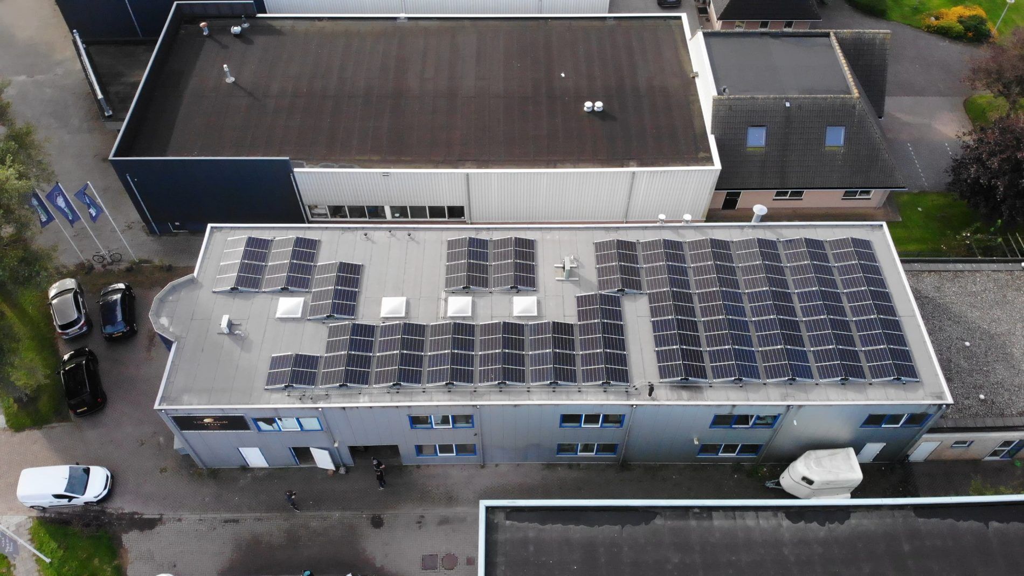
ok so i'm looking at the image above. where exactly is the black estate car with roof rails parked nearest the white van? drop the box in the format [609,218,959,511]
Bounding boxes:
[59,342,111,418]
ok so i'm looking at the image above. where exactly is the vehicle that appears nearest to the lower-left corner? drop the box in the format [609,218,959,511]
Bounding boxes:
[10,456,114,507]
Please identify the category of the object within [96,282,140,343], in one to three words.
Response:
car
